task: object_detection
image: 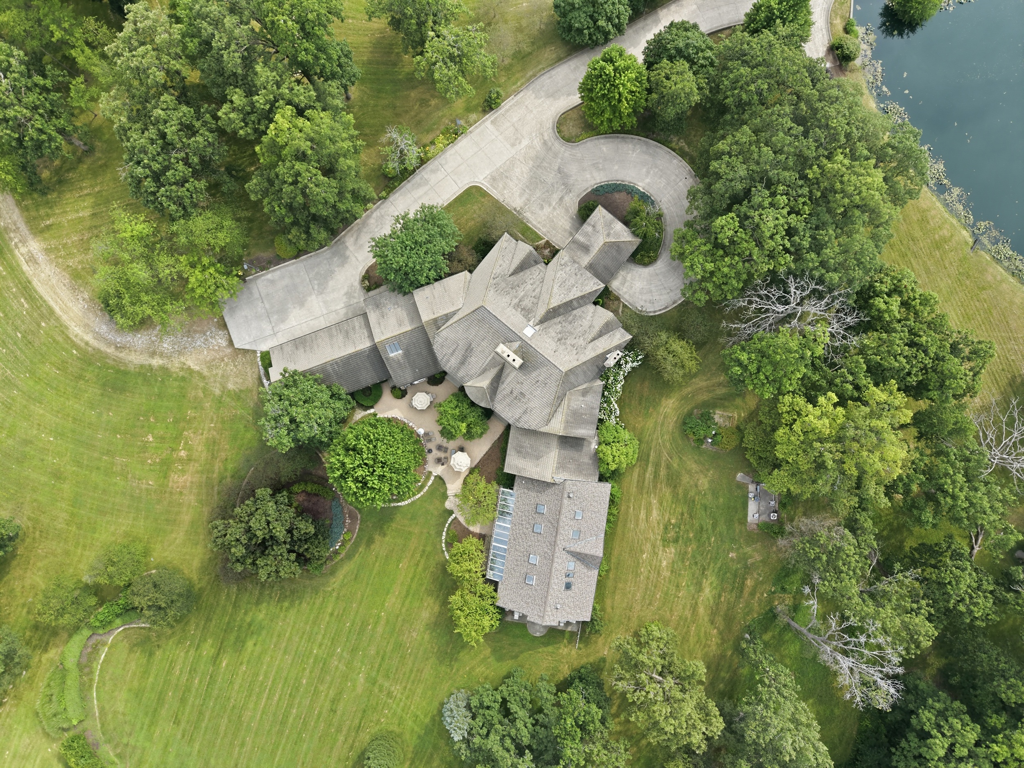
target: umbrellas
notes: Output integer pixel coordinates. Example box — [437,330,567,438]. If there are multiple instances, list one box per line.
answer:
[412,392,430,410]
[450,451,471,472]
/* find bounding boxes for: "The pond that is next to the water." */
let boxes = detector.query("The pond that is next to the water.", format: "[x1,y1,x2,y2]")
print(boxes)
[854,0,1024,285]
